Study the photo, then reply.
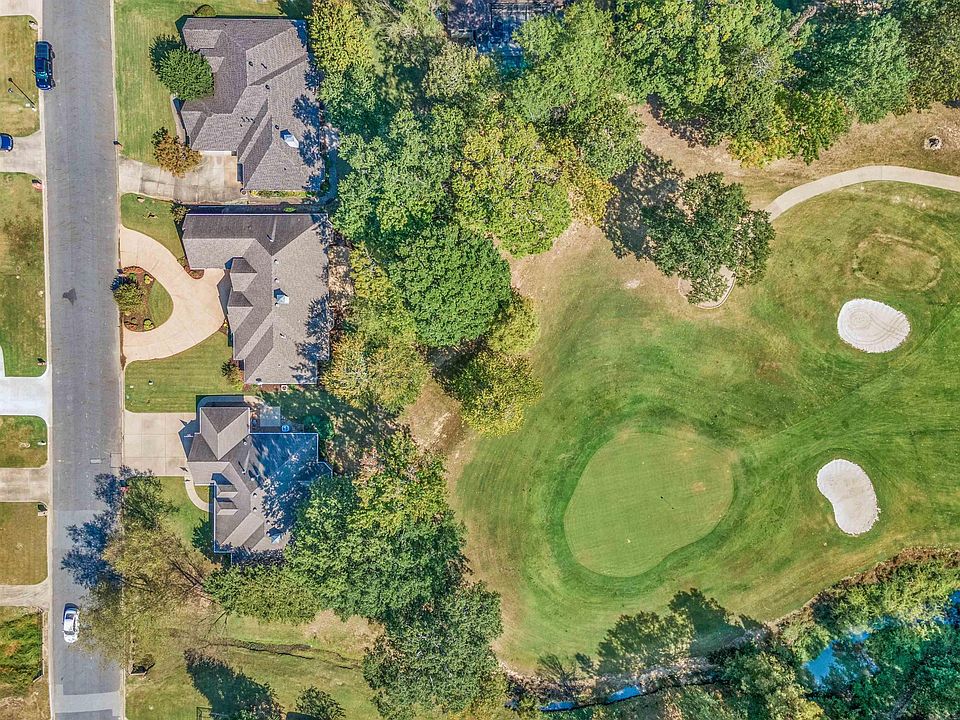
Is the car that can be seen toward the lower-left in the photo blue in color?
No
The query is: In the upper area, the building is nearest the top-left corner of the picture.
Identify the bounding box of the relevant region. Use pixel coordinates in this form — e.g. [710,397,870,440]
[182,17,322,191]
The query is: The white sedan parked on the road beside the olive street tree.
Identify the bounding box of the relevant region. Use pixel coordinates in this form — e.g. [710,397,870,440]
[58,607,79,645]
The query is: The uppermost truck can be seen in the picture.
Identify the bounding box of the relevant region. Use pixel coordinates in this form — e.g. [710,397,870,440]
[30,38,52,89]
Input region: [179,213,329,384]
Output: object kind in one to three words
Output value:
house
